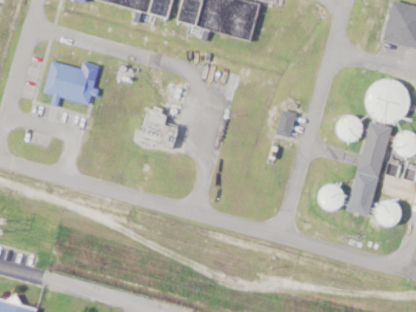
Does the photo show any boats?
No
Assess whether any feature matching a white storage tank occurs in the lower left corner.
No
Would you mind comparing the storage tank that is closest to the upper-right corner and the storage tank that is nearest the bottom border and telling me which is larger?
the storage tank that is closest to the upper-right corner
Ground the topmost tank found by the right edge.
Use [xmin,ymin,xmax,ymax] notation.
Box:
[364,78,411,124]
